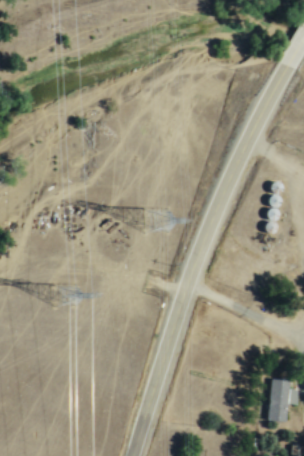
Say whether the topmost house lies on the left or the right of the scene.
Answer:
right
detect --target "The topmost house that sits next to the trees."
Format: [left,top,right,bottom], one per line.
[267,378,300,421]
